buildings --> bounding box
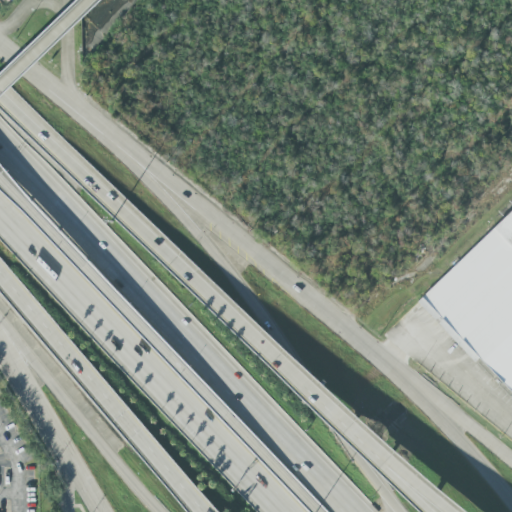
[418,212,512,392]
